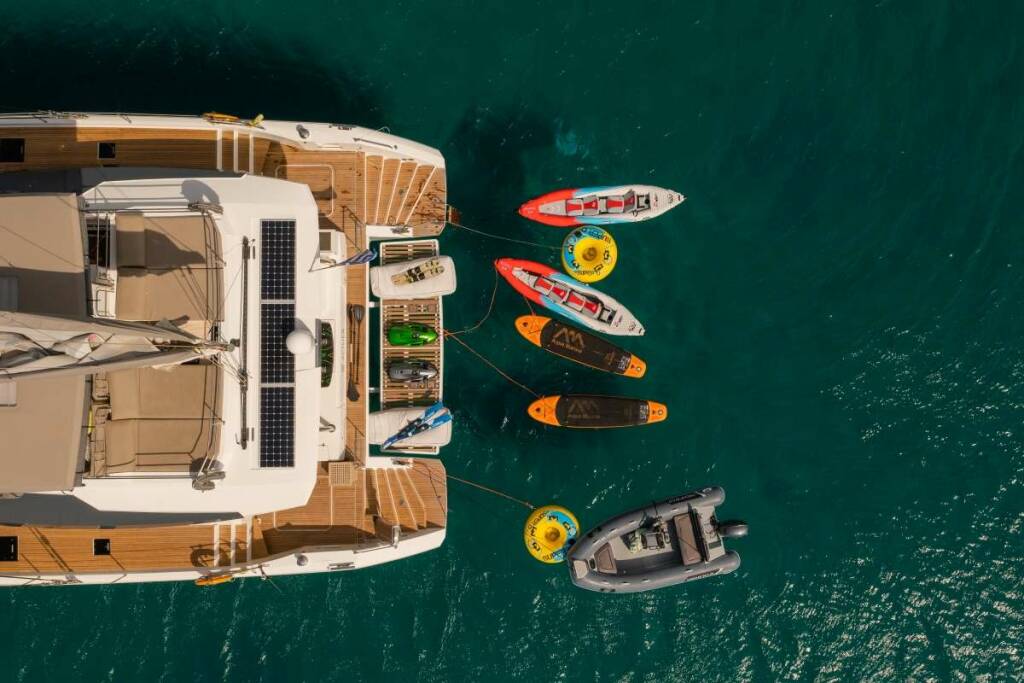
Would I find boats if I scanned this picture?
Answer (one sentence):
Yes, there's a boat here.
